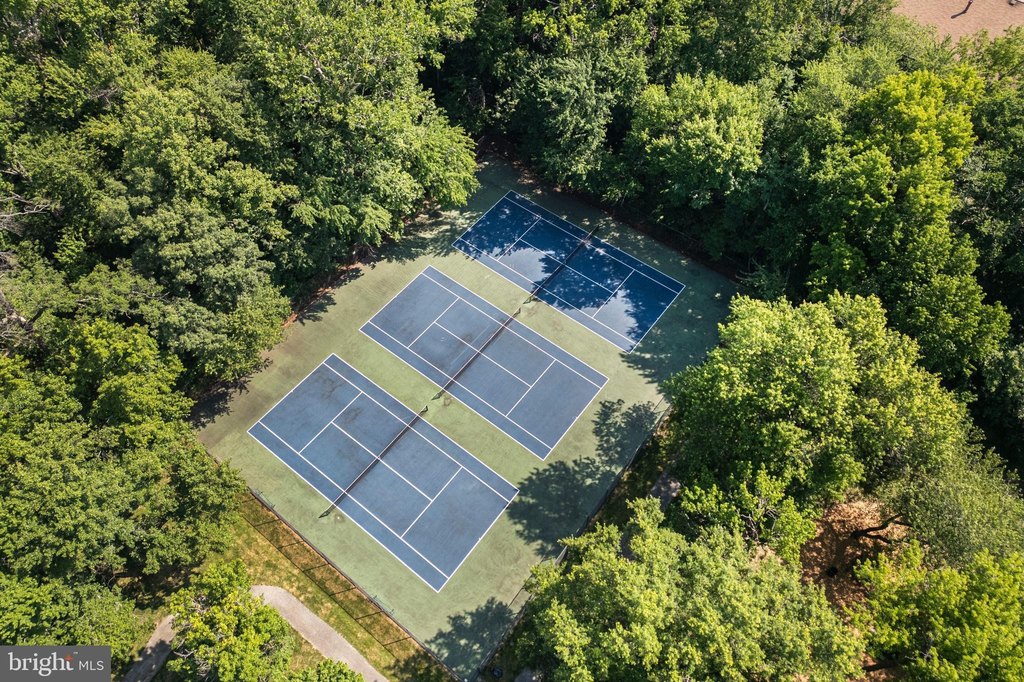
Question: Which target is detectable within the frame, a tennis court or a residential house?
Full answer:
Visible in the photo is a tennis court.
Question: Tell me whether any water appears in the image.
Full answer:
No, there's no water in this view.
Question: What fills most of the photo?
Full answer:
For the most part, this view shows trees.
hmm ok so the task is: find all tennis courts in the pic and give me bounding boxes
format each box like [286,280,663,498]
[453,191,683,352]
[360,266,608,459]
[248,354,518,590]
